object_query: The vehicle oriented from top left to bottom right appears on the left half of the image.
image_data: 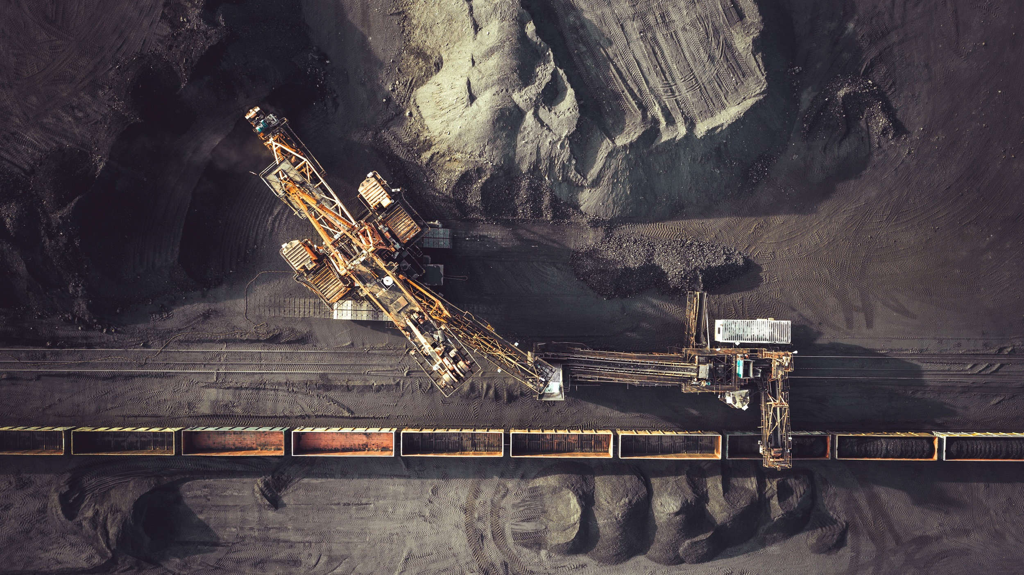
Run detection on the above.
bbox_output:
[239,102,556,397]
